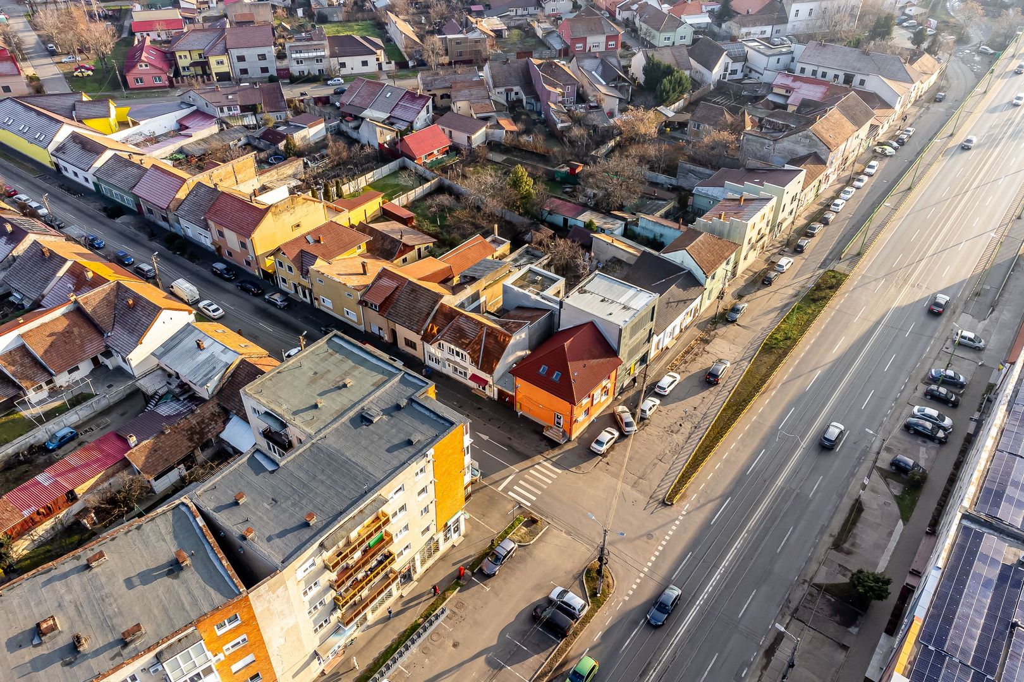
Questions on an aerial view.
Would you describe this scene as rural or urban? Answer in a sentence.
This place is urban.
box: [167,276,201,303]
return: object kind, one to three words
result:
vehicle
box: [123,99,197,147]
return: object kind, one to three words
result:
building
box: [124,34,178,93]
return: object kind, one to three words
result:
house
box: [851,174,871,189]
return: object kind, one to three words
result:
car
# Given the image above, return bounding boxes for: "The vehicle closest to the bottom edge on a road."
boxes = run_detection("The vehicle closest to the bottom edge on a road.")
[562,649,600,682]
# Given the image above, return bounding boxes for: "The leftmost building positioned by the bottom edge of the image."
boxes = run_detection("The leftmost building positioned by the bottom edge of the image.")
[0,499,275,682]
